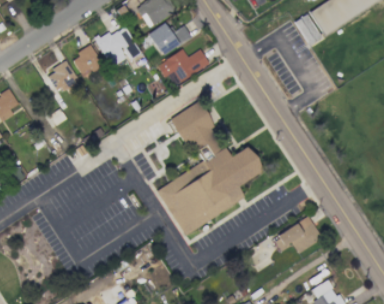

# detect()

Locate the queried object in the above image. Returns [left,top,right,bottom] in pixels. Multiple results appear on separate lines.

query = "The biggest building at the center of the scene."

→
[160,101,262,236]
